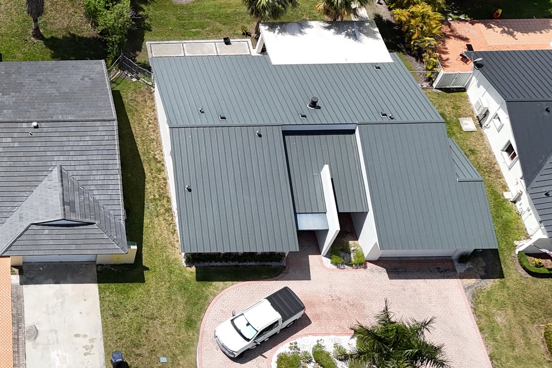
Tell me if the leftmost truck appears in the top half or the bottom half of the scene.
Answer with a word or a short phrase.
bottom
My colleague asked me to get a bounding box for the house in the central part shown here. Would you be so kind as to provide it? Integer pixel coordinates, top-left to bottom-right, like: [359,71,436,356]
[149,52,498,262]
